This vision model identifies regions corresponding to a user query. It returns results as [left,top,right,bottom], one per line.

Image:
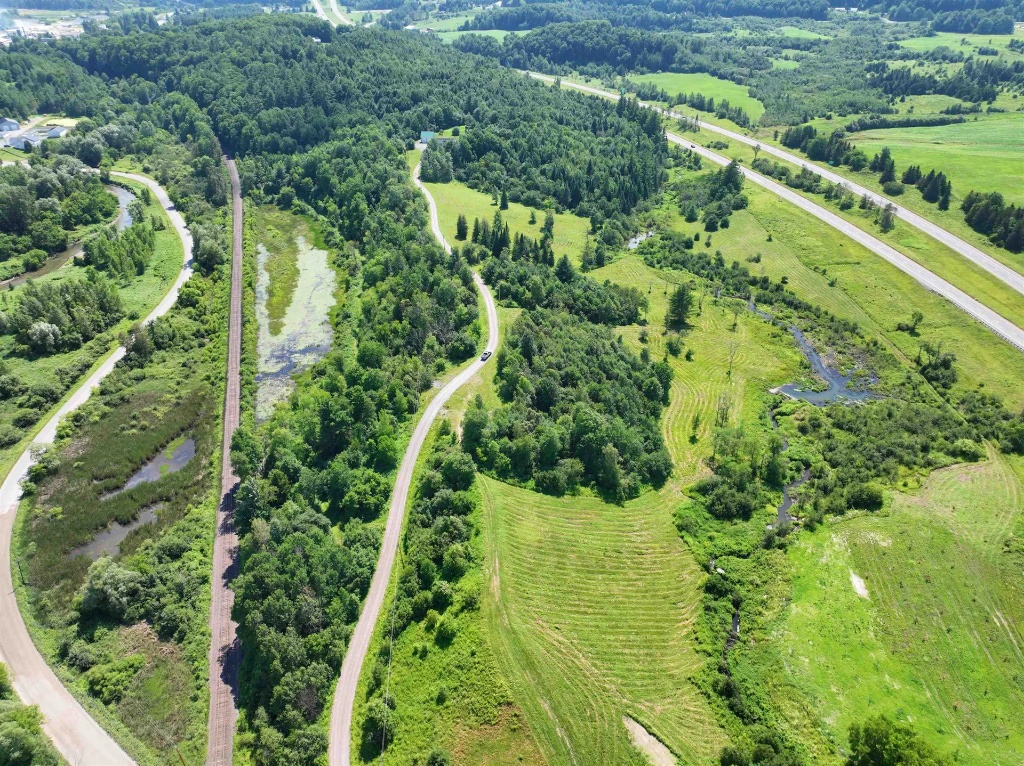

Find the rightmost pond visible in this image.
[744,298,881,407]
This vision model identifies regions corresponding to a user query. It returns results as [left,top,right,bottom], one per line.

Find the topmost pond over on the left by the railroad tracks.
[253,236,344,427]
